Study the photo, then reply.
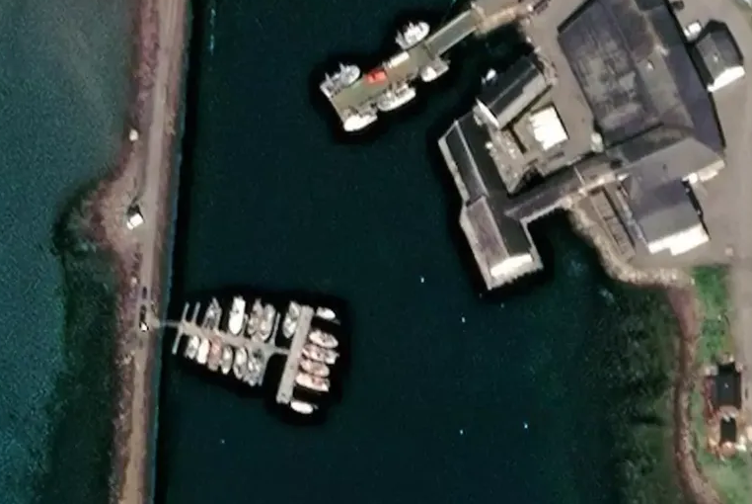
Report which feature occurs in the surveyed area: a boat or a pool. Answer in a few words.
boat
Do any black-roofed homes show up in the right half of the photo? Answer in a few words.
Yes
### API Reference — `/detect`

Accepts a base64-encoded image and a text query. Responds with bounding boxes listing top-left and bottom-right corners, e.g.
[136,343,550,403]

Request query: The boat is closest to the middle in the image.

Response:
[316,307,337,320]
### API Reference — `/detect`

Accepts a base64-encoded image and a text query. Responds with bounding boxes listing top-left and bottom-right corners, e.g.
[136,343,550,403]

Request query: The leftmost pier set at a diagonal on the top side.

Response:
[326,35,440,127]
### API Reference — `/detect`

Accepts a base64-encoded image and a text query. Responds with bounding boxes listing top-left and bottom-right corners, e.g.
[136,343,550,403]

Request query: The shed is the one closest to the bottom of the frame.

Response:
[722,418,736,446]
